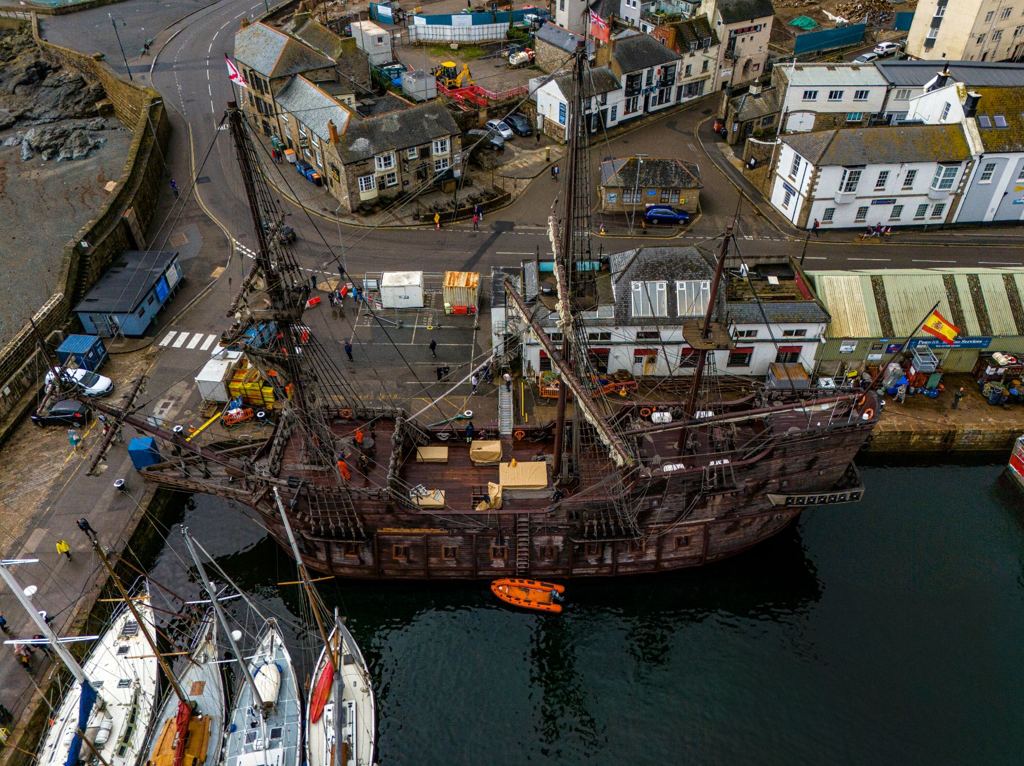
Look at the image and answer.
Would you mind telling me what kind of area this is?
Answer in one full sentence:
It's a port.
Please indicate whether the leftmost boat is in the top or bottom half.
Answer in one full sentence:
The leftmost boat sits in the bottom half of the picture.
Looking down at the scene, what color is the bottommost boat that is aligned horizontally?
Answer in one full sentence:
The color of the bottommost boat that is aligned horizontally is orange.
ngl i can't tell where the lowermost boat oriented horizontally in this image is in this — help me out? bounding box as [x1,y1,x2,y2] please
[490,580,572,615]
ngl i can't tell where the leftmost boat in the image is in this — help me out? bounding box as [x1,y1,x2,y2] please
[0,527,158,766]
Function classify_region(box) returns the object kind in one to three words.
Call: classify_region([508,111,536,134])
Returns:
car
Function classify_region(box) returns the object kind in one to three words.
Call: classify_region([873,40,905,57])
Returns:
car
